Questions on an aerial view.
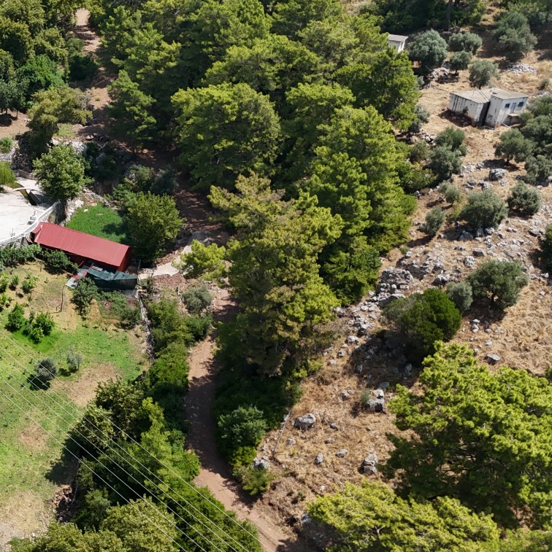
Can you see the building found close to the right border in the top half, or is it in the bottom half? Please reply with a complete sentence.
The building found close to the right border is in the top half of the image.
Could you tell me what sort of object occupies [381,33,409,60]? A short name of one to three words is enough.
shed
